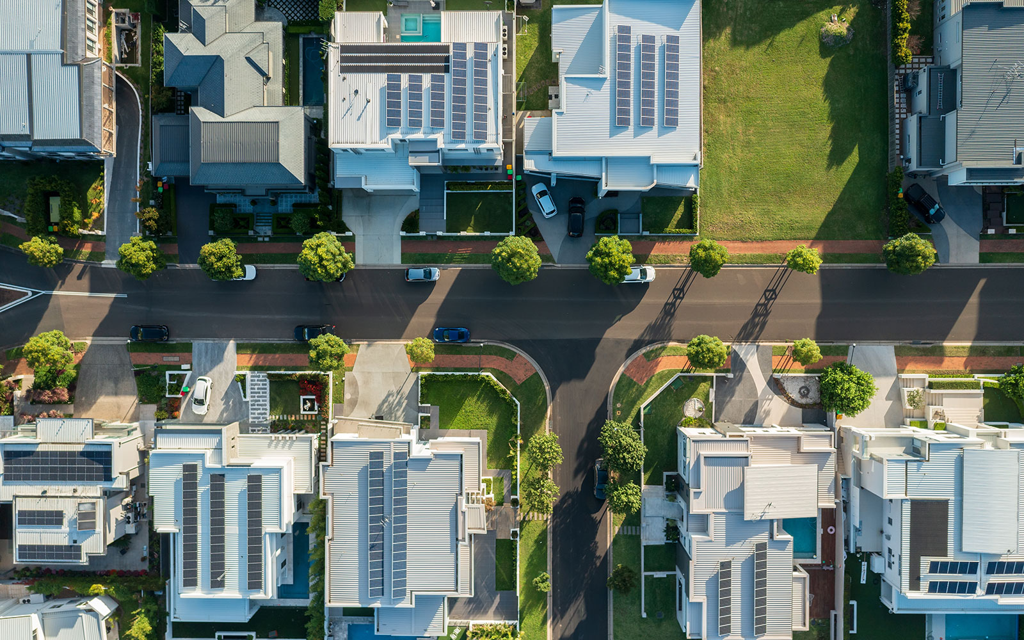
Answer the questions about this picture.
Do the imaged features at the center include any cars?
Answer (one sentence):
Yes, a car shows up at the center.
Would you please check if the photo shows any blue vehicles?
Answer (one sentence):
Yes, the photo shows a blue vehicle.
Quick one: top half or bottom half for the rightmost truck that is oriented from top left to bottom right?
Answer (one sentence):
It is in the top half that the rightmost truck that is oriented from top left to bottom right appears.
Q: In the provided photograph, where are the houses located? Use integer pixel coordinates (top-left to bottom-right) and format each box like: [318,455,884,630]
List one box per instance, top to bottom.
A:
[0,0,127,161]
[151,0,315,227]
[524,0,702,194]
[900,0,1024,185]
[328,10,512,193]
[150,414,322,623]
[0,416,150,564]
[320,416,487,636]
[665,417,837,640]
[841,419,1024,614]
[0,592,126,640]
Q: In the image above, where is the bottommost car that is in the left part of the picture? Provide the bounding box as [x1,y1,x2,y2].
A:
[191,375,214,416]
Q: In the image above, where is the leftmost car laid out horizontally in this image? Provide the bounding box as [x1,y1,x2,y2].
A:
[130,325,171,341]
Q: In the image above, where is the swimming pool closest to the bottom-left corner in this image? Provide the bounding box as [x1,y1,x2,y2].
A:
[276,519,311,600]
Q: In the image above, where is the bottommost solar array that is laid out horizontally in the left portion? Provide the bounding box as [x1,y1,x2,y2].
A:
[17,544,81,560]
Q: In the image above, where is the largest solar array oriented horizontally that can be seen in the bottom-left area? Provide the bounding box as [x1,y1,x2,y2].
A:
[2,450,112,481]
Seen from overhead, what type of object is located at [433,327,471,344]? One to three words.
car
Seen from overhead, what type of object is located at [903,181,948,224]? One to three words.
truck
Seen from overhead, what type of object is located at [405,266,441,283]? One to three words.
car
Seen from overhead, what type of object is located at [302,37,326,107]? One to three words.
swimming pool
